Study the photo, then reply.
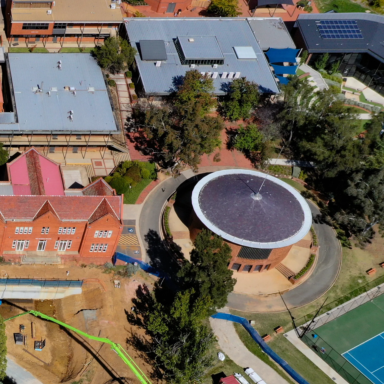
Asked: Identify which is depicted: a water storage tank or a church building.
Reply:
church building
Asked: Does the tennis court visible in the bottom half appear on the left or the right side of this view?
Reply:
right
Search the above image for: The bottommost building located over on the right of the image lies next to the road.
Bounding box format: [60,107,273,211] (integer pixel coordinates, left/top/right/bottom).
[188,152,313,274]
